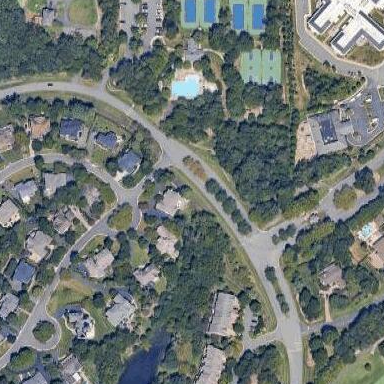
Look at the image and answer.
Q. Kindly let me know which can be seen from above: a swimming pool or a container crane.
swimming pool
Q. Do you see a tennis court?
Yes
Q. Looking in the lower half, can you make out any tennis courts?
No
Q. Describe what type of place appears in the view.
residential area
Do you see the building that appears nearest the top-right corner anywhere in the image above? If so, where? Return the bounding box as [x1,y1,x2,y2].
[308,0,384,54]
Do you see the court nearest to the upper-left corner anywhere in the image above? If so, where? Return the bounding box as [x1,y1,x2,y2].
[181,0,200,27]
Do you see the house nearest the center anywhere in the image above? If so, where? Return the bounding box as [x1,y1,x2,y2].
[159,189,186,217]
